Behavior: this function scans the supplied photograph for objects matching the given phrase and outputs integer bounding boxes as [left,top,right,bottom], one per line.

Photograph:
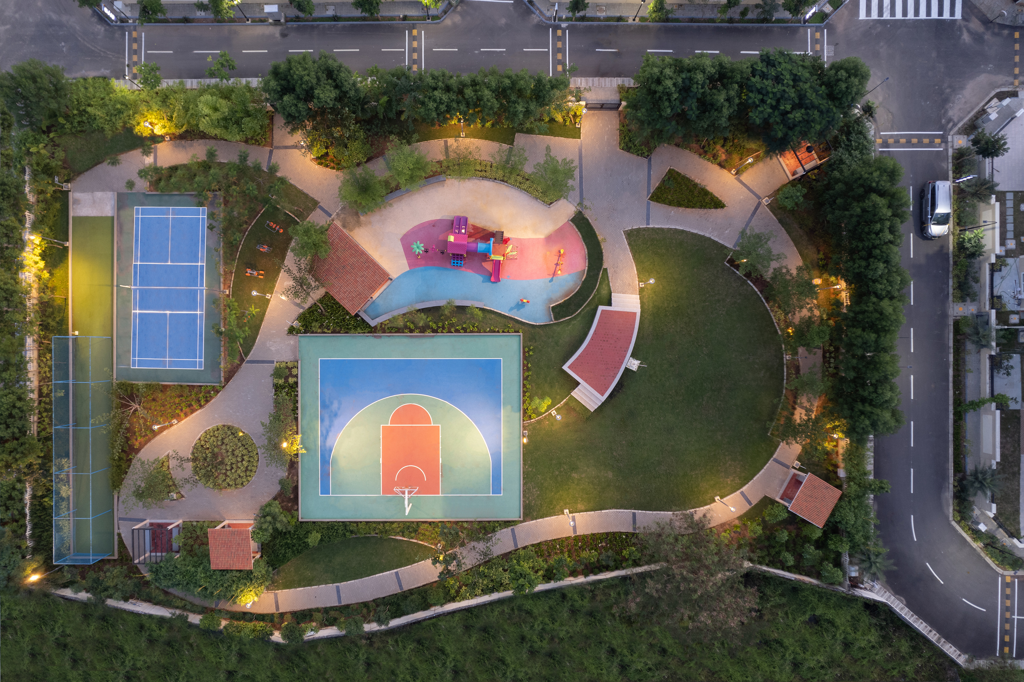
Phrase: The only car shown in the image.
[921,180,955,240]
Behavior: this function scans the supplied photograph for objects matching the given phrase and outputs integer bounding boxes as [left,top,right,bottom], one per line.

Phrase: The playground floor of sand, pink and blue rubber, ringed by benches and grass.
[332,177,585,322]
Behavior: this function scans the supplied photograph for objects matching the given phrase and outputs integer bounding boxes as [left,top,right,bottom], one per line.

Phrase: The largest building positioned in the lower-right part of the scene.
[774,467,842,529]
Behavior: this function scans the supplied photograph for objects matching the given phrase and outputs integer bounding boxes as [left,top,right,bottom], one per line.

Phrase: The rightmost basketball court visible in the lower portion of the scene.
[298,334,523,521]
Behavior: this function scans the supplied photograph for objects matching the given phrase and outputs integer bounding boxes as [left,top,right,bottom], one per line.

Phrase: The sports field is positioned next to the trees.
[68,191,120,559]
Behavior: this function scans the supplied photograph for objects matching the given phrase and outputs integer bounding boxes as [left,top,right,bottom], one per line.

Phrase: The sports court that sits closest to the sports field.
[118,192,225,385]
